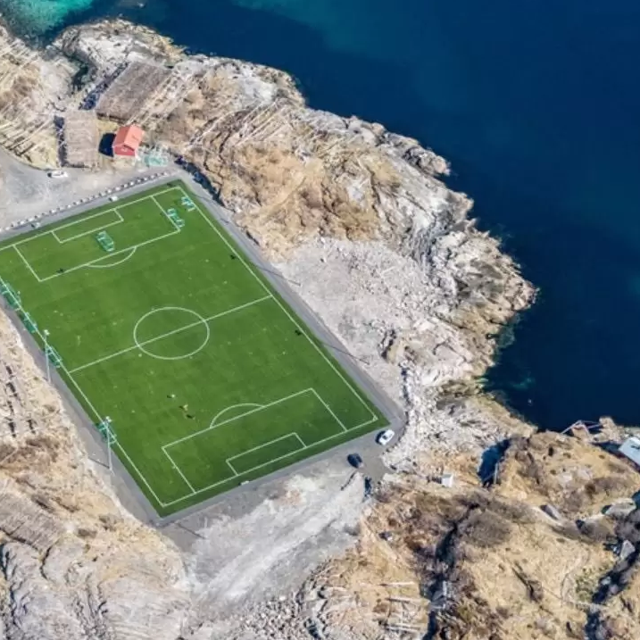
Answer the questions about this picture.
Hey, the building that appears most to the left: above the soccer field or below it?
above it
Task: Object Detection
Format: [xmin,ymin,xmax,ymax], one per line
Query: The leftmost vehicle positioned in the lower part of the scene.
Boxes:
[346,452,362,467]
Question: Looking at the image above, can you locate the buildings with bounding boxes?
[441,473,454,488]
[114,124,140,156]
[612,431,640,470]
